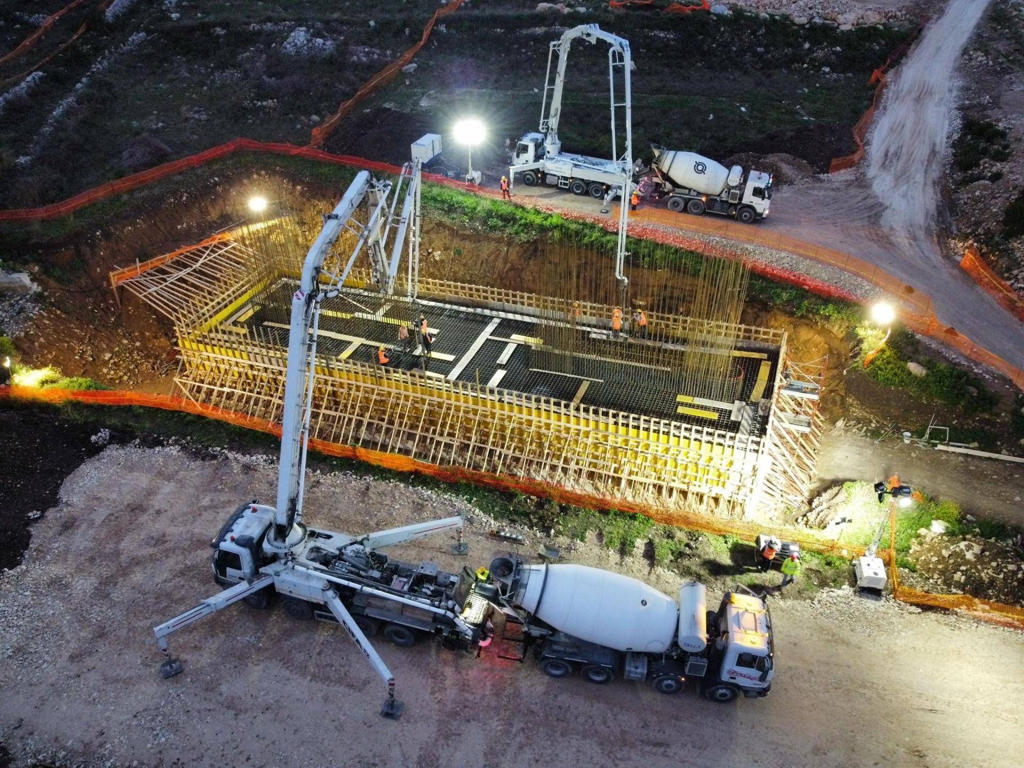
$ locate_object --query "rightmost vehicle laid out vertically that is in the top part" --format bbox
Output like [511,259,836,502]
[507,23,639,332]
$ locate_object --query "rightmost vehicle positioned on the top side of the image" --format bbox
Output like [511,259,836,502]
[640,141,784,222]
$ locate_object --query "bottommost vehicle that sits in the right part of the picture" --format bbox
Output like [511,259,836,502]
[474,551,791,703]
